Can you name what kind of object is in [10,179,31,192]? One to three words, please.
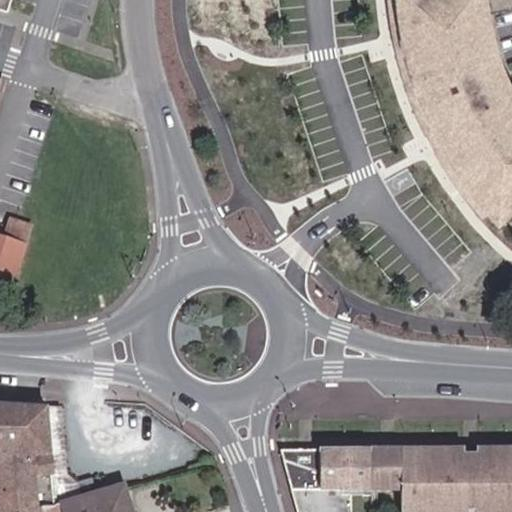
vehicle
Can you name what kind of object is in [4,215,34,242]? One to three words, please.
shed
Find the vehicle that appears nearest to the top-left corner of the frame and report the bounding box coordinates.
[30,100,52,114]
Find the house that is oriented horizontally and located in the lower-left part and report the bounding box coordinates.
[57,481,132,512]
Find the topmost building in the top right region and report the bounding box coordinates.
[388,0,512,230]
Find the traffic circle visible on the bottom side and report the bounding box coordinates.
[134,250,304,420]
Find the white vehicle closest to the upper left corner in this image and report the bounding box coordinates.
[28,128,47,140]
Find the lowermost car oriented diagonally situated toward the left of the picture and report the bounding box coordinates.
[178,392,199,412]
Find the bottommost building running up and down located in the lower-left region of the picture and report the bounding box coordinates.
[0,403,54,512]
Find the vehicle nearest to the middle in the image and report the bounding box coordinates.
[308,220,328,238]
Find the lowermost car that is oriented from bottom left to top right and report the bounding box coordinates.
[410,290,430,306]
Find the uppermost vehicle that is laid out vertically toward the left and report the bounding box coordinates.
[162,107,174,128]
